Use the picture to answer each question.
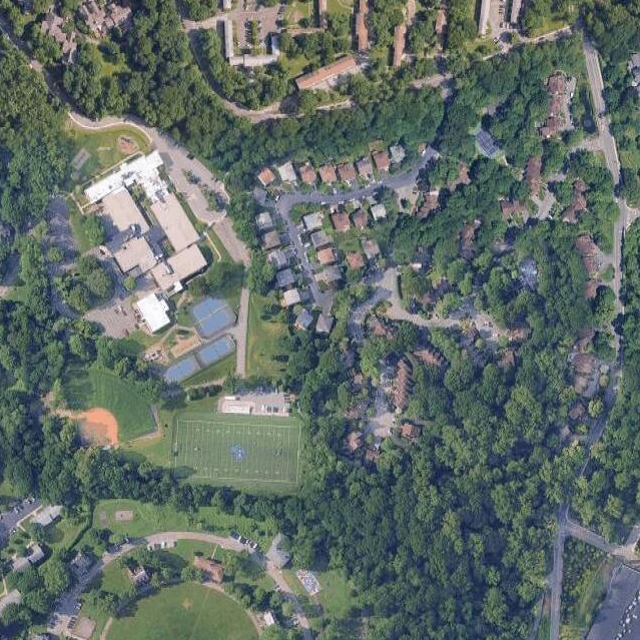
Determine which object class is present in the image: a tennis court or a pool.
tennis court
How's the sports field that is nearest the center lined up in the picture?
from left to right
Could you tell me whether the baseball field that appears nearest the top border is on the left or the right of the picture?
left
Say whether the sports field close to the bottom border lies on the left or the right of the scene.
left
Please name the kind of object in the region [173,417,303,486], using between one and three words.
sports field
